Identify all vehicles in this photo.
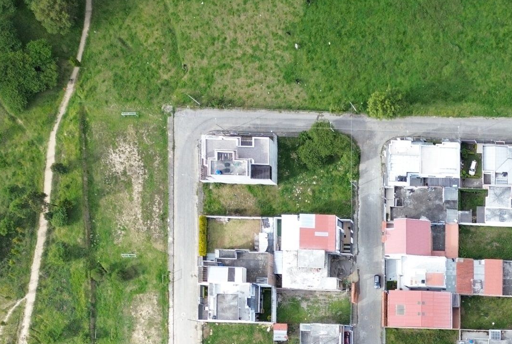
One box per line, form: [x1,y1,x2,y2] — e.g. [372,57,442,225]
[468,159,478,176]
[345,332,352,344]
[373,275,381,289]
